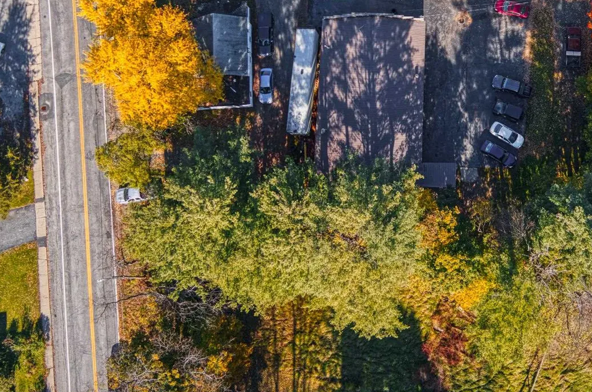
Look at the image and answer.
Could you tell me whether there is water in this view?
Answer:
No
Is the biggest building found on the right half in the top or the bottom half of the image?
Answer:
top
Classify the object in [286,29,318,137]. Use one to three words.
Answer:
trailer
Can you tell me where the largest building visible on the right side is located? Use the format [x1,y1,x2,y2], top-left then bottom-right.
[315,15,426,181]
